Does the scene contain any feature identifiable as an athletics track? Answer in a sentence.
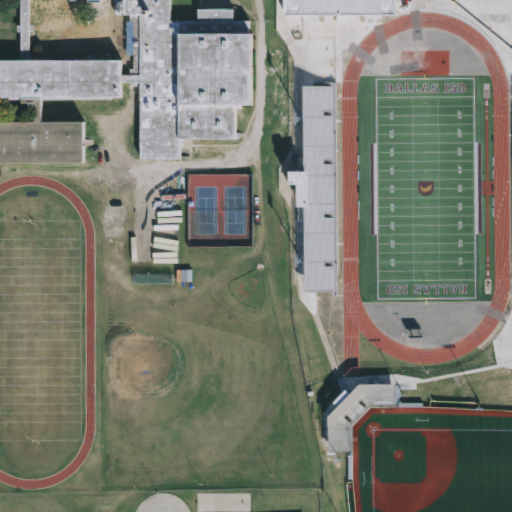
Yes, there's an athletics track down there.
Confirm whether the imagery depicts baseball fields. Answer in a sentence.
Yes, a baseball field can be made out from above.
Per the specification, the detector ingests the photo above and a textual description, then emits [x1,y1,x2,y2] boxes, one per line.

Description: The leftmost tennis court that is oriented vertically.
[195,187,218,235]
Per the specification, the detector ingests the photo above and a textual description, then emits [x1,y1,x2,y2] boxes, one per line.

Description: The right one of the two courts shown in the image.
[224,187,247,235]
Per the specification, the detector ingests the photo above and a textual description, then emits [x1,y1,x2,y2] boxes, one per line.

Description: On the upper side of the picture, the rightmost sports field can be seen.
[358,76,494,302]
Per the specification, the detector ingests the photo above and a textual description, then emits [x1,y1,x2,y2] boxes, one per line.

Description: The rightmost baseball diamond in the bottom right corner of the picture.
[353,408,512,512]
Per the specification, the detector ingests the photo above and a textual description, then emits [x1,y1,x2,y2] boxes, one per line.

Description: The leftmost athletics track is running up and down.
[0,176,95,489]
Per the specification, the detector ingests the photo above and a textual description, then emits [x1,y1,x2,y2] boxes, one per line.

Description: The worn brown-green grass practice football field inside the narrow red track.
[0,185,86,480]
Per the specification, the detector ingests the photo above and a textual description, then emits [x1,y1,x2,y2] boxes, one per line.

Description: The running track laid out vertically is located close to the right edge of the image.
[342,12,510,371]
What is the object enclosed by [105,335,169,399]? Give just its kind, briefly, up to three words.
baseball field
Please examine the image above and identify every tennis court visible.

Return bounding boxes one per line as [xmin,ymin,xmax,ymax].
[224,187,247,235]
[195,187,218,235]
